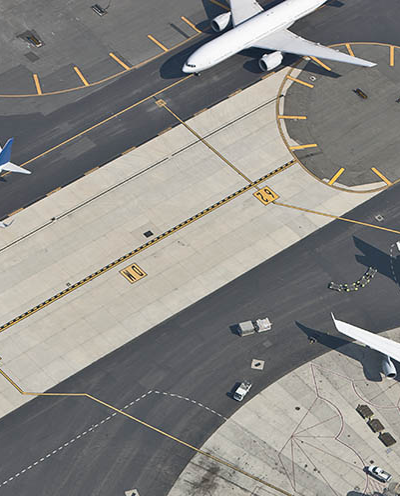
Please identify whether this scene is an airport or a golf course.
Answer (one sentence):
This image shows an airport.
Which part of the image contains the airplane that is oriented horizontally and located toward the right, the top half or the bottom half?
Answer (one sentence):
You can find the airplane that is oriented horizontally and located toward the right in the top half.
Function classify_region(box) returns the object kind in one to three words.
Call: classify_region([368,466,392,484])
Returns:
vehicle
